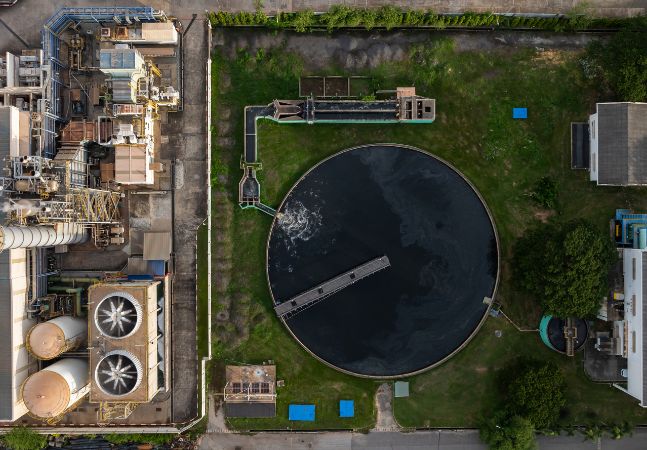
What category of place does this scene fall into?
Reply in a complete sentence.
This looks like an industrial area.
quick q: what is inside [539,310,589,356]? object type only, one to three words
storage tank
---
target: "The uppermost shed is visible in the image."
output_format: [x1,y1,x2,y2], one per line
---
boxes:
[140,22,181,49]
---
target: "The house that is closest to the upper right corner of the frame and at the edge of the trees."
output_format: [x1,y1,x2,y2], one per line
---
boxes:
[587,100,647,185]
